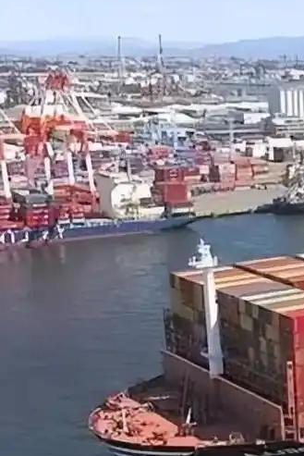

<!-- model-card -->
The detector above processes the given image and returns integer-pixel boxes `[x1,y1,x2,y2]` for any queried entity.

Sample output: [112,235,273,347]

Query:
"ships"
[0,164,215,248]
[257,160,304,214]
[81,240,304,456]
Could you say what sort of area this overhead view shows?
port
